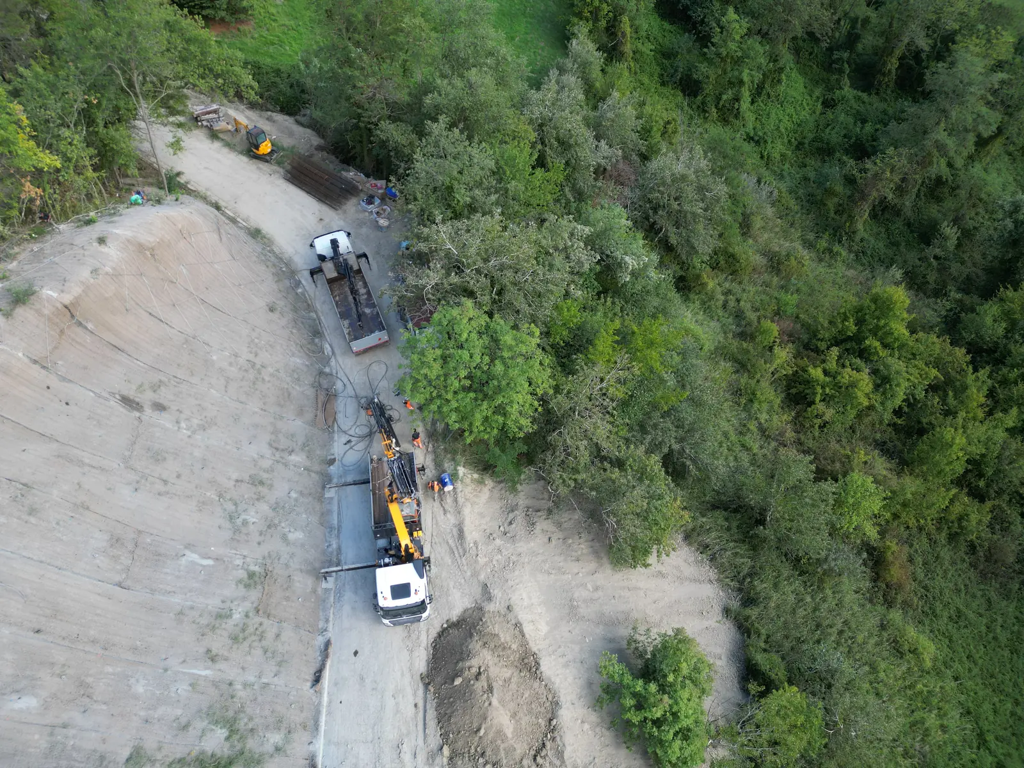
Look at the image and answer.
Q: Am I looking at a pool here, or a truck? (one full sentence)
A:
It is a truck that can be seen here.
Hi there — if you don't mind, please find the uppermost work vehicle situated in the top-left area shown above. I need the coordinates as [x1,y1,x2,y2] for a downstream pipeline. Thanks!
[236,111,288,168]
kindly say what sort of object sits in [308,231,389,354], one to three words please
truck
